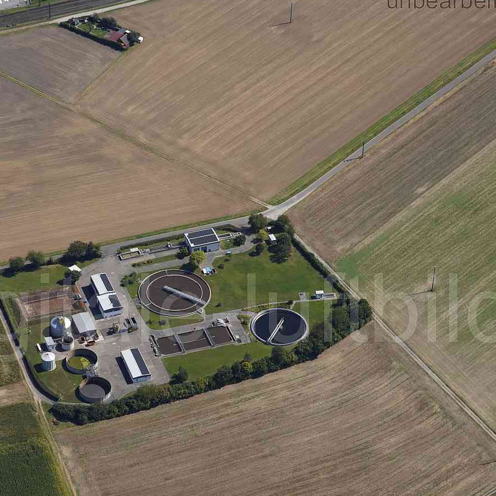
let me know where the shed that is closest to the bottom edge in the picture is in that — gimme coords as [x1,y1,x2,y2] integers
[120,348,152,384]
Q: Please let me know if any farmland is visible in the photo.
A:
Yes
